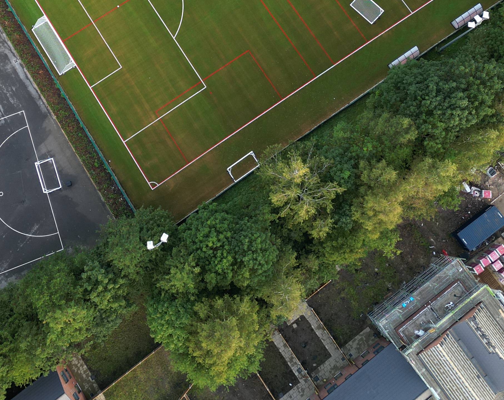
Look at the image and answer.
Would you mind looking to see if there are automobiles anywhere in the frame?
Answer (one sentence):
No, the frame has no automobile in it.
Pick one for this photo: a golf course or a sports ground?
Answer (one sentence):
It's a sports ground.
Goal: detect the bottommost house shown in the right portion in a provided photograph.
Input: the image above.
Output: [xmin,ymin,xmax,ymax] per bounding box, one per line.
[298,340,430,400]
